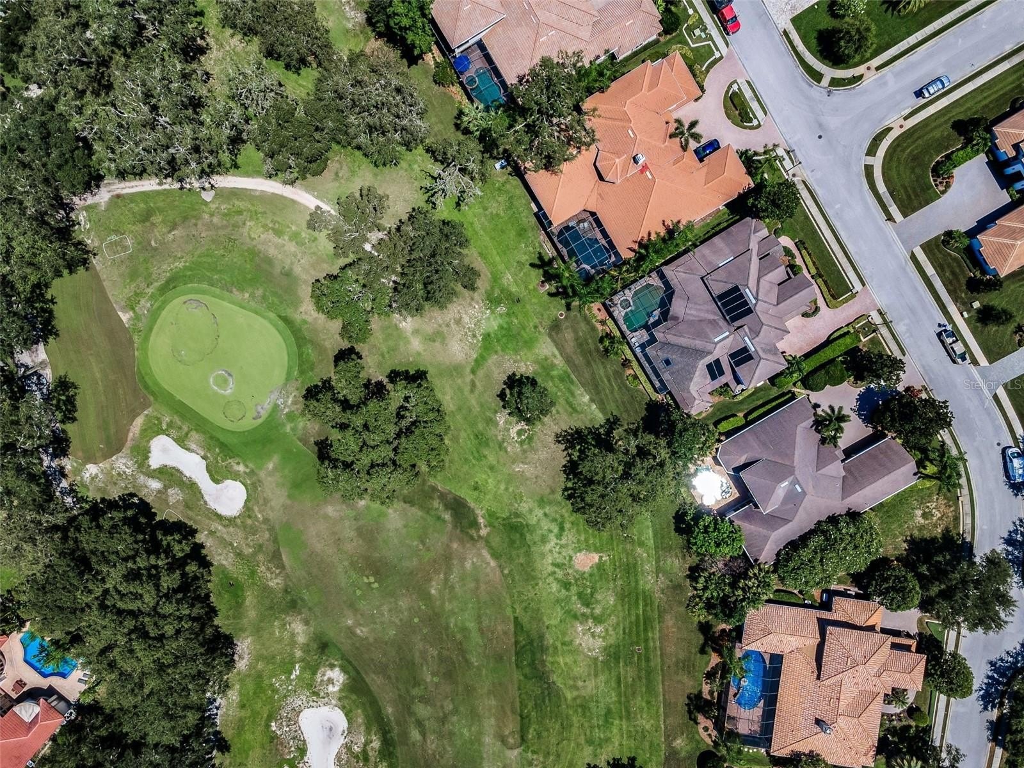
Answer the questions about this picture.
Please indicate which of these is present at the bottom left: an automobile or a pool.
pool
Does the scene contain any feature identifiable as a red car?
Yes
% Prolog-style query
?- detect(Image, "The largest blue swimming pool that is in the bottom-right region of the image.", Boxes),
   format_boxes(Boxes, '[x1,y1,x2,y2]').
[731,650,767,711]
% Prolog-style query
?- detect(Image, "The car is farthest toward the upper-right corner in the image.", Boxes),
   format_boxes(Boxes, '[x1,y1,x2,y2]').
[910,74,952,104]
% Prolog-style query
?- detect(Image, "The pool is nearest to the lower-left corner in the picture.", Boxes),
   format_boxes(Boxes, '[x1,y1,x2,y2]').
[20,632,72,679]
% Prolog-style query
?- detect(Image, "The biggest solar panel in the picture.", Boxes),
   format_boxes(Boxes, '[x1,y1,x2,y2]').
[716,284,754,323]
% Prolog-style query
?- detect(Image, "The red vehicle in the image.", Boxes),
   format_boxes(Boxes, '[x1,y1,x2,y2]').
[715,4,741,39]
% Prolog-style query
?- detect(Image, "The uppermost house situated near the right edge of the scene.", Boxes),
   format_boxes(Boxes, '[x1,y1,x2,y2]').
[981,110,1024,200]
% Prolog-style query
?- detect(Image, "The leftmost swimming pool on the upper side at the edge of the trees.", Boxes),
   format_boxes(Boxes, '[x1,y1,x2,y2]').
[465,66,507,105]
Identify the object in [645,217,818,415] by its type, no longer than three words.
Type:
house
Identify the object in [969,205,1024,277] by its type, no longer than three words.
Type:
house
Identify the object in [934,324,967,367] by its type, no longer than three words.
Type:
truck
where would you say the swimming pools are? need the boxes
[20,632,72,679]
[465,66,507,105]
[618,283,666,333]
[731,650,767,711]
[556,224,612,284]
[691,465,733,506]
